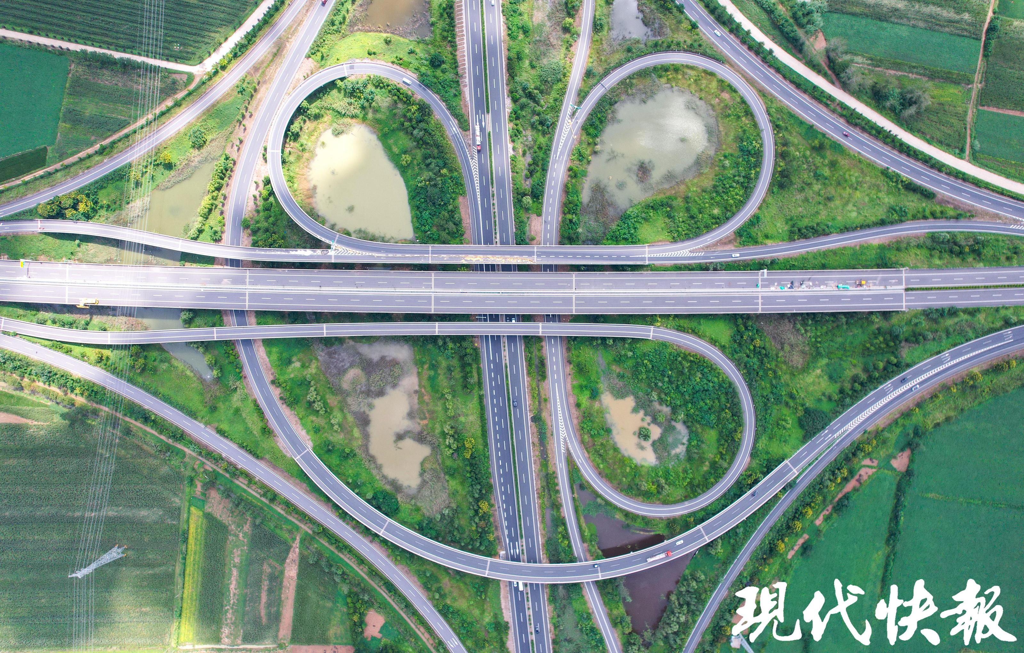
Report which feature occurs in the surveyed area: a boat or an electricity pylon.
electricity pylon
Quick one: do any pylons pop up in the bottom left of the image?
Yes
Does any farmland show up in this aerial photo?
Yes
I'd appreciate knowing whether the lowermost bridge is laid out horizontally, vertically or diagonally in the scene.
horizontally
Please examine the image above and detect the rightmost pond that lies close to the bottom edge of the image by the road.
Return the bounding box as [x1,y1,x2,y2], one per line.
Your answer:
[574,483,697,636]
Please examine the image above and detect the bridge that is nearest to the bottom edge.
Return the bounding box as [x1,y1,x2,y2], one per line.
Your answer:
[295,446,798,584]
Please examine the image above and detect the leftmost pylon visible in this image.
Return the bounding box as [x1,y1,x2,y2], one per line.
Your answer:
[66,545,124,577]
